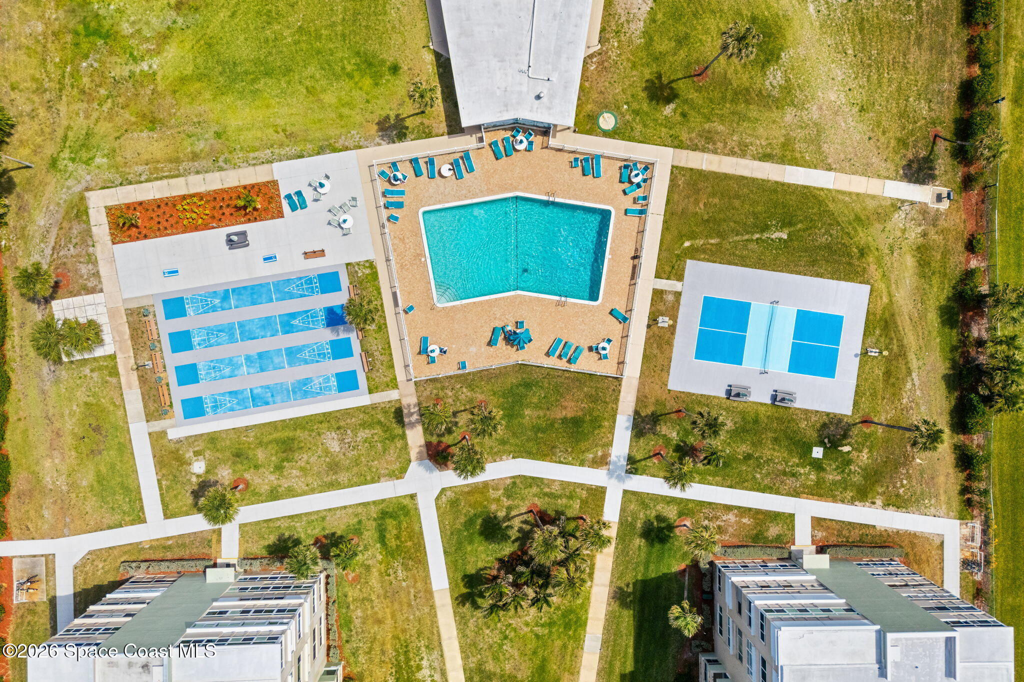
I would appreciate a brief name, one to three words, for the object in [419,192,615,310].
swimming pool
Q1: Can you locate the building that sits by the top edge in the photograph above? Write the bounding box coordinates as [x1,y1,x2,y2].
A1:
[440,0,593,135]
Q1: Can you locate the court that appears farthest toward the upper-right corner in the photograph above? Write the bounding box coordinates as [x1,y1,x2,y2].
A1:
[668,260,871,415]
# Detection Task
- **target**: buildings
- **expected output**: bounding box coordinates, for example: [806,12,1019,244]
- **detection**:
[693,559,1016,682]
[25,571,345,682]
[440,0,593,135]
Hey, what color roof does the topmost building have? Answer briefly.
white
